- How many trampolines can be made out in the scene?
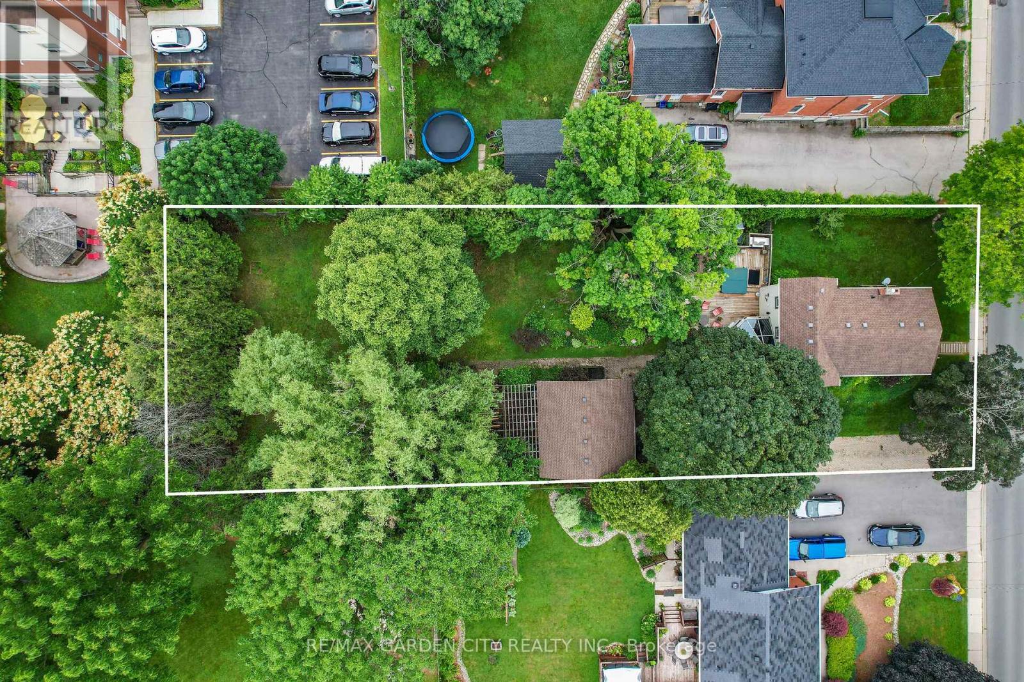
one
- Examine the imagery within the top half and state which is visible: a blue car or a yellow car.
blue car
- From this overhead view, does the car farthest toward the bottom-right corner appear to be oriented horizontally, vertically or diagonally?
horizontally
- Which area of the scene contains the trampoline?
top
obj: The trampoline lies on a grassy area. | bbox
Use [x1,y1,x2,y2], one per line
[422,110,476,164]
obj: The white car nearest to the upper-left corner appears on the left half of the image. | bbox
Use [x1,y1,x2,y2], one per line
[150,27,211,59]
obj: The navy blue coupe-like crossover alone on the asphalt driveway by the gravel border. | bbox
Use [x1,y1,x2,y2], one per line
[862,521,926,552]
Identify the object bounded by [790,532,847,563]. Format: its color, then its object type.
blue truck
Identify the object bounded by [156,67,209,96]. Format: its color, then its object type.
blue car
